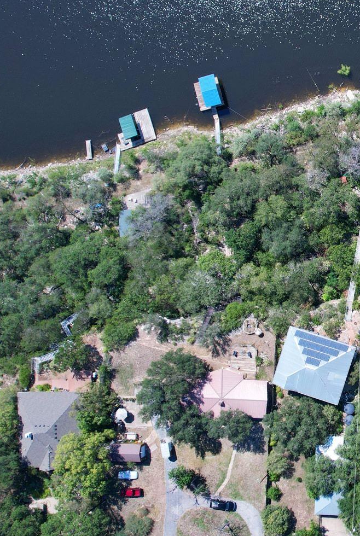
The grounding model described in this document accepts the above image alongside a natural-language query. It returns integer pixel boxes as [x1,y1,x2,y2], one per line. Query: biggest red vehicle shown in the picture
[119,488,143,500]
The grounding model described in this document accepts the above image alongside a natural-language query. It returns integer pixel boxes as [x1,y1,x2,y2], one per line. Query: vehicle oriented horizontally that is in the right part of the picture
[208,500,236,513]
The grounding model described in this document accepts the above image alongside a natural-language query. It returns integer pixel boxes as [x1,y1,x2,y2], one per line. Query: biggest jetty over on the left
[116,108,156,151]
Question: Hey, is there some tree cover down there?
Yes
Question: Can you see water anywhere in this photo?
Yes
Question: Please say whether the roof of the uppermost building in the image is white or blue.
blue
